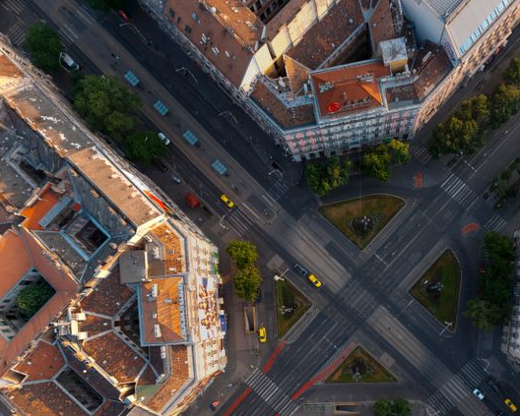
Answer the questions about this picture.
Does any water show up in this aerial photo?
No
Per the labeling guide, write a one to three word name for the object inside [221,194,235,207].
vehicle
